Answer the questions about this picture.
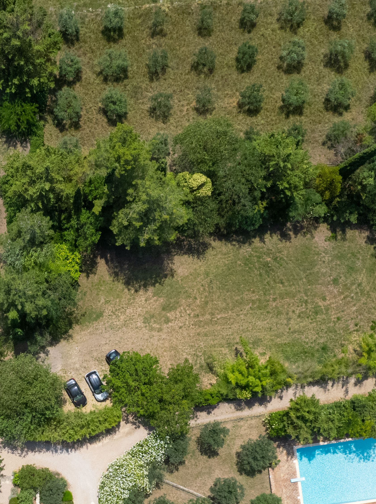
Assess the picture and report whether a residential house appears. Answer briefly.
No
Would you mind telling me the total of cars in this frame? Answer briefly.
3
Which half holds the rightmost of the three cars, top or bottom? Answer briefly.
bottom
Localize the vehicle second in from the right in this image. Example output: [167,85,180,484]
[85,368,109,402]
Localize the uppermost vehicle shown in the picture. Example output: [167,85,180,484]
[103,342,127,369]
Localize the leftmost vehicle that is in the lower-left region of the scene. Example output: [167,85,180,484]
[64,377,86,410]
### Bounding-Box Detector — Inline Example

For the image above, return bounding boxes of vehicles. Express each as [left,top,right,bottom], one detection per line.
[103,342,127,369]
[85,368,109,402]
[64,377,86,410]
